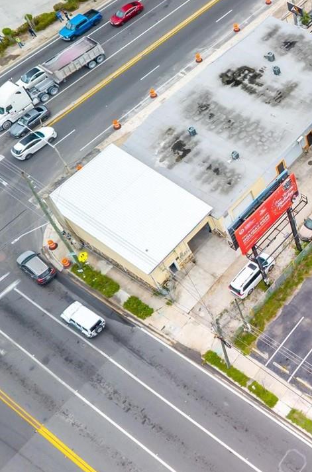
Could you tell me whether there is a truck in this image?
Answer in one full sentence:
Yes, this view includes a truck.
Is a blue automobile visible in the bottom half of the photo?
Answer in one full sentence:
No, there is no blue automobile in the bottom half of the photo.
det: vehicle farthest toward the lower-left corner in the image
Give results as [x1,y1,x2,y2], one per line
[53,294,105,335]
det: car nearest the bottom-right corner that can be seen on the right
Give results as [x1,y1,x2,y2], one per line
[224,252,271,295]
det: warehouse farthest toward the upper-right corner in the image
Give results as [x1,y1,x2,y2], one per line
[120,13,312,231]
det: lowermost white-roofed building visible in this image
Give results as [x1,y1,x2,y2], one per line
[49,138,215,286]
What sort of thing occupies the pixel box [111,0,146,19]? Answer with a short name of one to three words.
car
